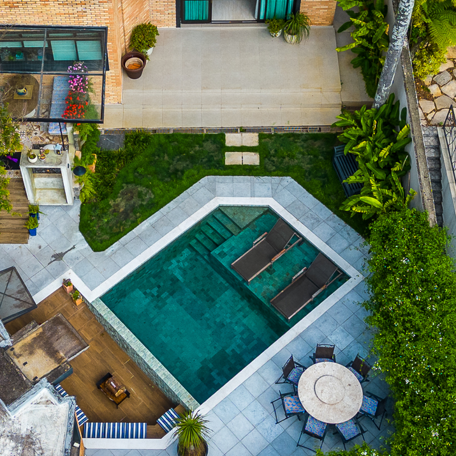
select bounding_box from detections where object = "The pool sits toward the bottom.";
[28,196,366,450]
